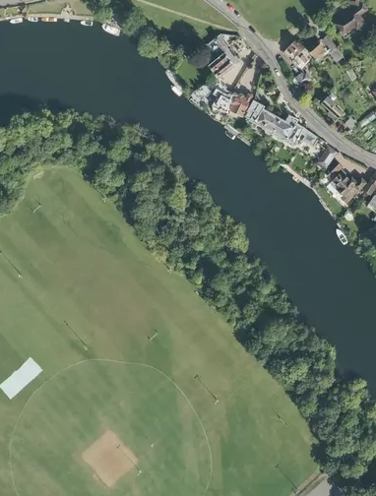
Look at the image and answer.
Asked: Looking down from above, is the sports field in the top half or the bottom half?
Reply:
bottom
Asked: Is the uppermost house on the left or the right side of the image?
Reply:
right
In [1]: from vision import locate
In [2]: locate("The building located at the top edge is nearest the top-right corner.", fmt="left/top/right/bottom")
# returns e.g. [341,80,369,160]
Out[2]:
[336,2,373,38]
